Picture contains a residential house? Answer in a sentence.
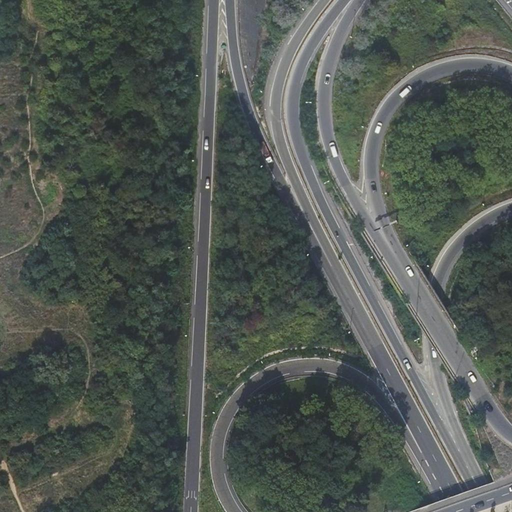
No, the photo shows no residential house.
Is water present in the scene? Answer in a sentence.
No, water can't be seen anywhere here.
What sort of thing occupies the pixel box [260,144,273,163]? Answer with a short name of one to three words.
vehicle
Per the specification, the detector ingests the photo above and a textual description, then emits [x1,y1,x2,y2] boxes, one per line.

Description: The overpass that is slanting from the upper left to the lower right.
[402,274,476,372]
